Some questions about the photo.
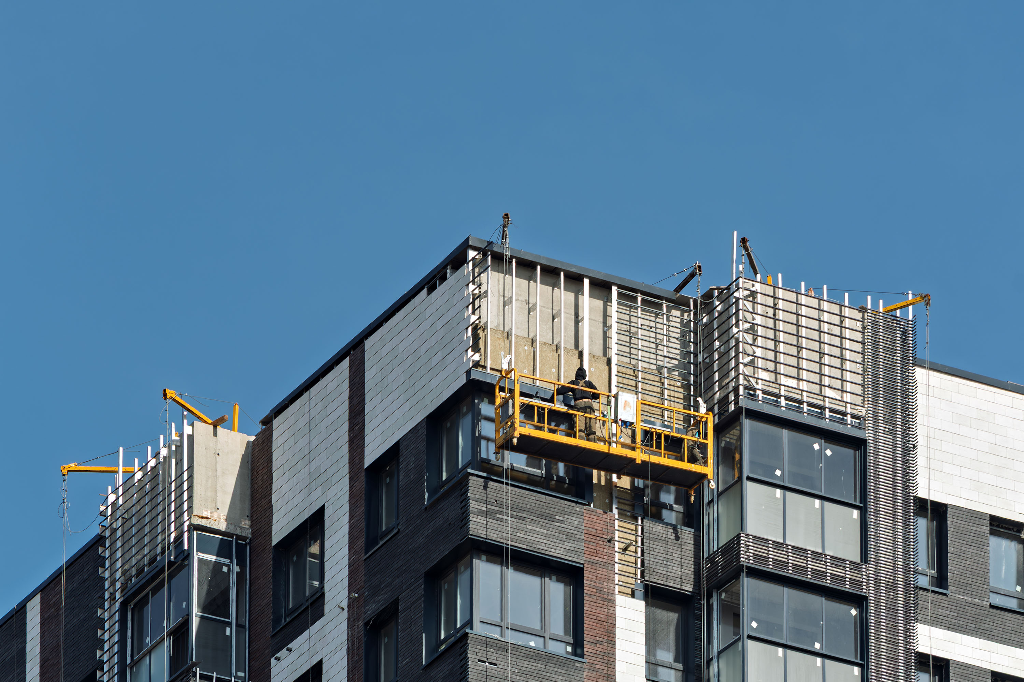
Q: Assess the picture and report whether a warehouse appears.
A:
No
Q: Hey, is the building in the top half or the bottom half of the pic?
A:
bottom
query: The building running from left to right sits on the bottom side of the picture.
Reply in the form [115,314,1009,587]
[0,234,1024,682]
